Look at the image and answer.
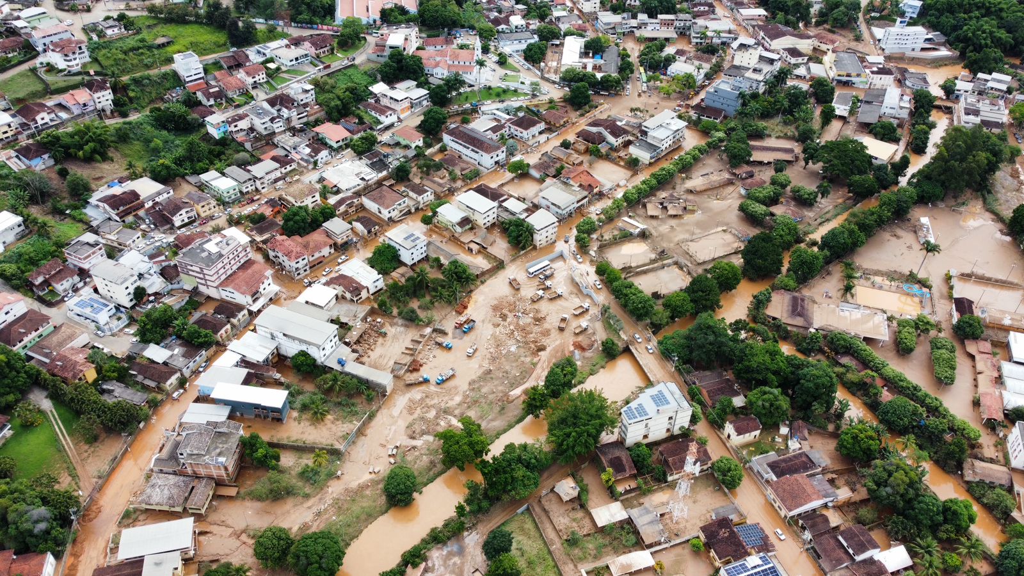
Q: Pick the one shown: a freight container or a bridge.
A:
bridge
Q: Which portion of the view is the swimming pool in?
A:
right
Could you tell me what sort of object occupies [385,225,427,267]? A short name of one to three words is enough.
building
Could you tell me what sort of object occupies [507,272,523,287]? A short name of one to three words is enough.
vehicle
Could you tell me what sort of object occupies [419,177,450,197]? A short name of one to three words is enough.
house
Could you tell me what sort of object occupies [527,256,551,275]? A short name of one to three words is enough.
vehicle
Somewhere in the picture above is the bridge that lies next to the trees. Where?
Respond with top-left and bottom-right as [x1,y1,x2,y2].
[605,316,692,388]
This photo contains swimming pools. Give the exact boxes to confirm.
[856,285,921,315]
